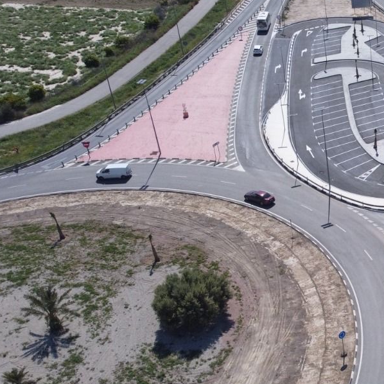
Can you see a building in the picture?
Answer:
No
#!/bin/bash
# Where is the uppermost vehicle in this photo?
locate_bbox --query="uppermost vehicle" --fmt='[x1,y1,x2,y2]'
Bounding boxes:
[255,7,271,29]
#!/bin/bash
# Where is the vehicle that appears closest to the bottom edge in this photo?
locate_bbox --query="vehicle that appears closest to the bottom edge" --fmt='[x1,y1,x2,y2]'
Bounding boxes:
[241,188,277,206]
